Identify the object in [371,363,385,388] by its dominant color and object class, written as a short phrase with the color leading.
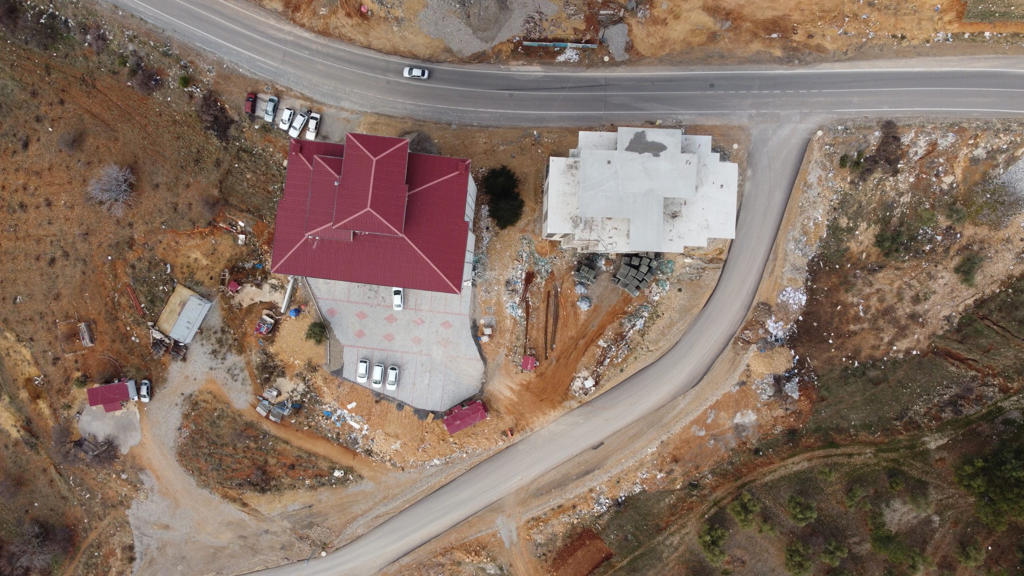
white car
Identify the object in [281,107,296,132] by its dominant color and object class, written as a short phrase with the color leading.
white car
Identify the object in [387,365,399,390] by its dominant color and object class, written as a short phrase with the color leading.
white vehicle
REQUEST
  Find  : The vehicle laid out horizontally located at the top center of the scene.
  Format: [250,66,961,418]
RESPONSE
[403,68,429,81]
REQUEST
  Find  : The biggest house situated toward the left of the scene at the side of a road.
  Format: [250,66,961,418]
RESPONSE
[272,132,473,293]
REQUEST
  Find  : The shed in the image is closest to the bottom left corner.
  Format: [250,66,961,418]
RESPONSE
[87,378,142,412]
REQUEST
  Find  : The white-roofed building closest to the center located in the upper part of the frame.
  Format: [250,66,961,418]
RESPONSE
[543,127,738,257]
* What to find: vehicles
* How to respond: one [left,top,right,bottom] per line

[289,112,309,139]
[403,68,429,81]
[281,107,296,132]
[371,363,385,388]
[387,365,399,390]
[356,358,370,383]
[139,379,153,402]
[264,96,279,123]
[393,286,404,310]
[306,113,322,141]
